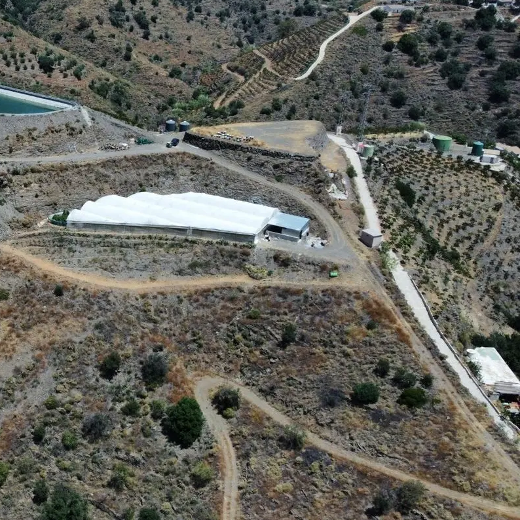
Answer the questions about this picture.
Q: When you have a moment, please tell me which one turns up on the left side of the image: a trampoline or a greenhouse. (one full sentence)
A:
The feature located on the left side of the image is a greenhouse.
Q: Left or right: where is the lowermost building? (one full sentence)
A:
The lowermost building sits on the right side.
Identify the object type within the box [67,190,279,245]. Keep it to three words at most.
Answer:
greenhouse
